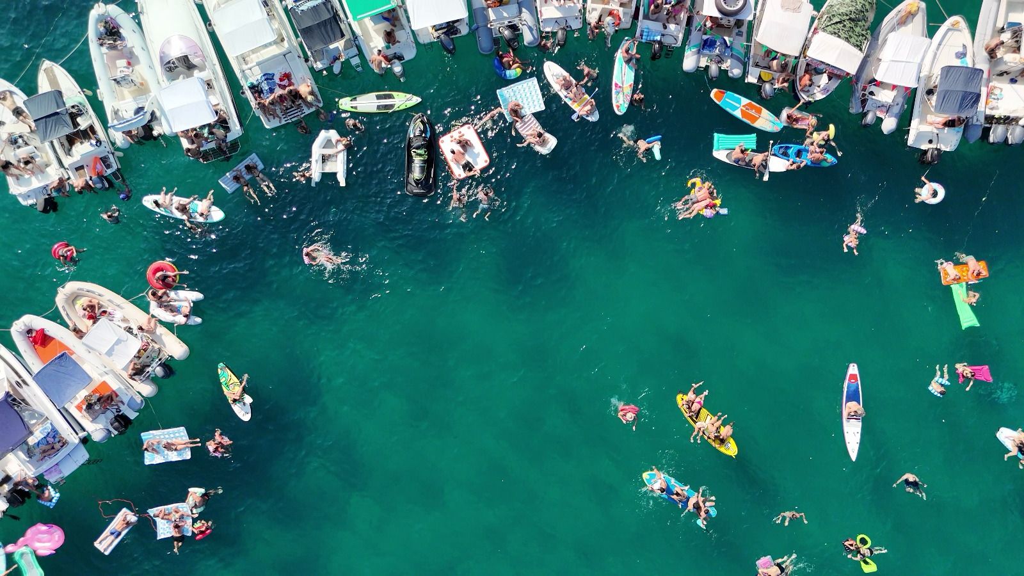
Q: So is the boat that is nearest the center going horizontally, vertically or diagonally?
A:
vertically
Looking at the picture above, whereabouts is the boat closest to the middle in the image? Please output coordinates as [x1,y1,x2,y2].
[405,114,436,196]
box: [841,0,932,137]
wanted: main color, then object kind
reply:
white boat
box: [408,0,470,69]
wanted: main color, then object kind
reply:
white boat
